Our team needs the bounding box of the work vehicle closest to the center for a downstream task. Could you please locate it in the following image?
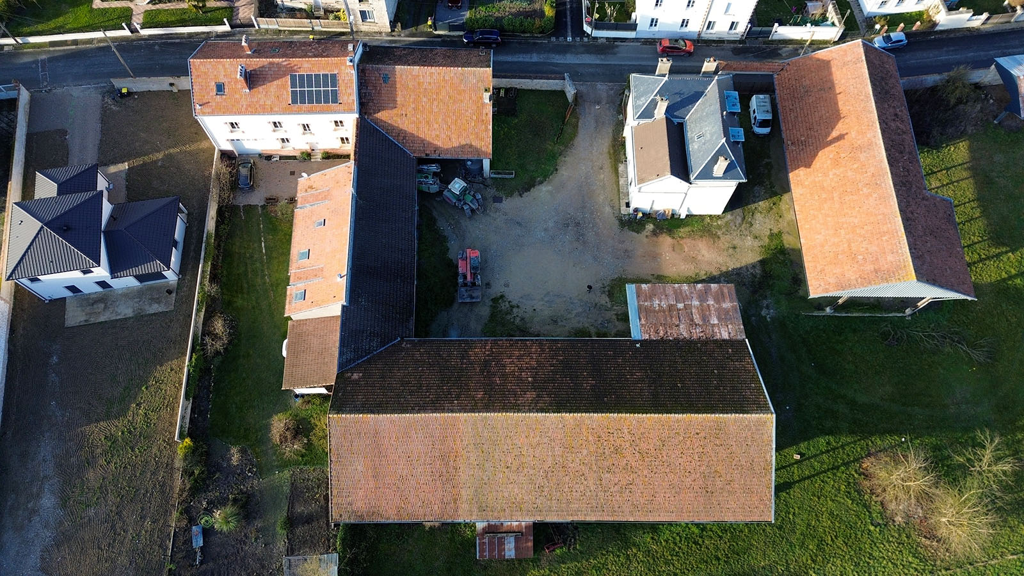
[455,244,482,305]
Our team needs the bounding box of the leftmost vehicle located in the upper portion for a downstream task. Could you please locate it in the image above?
[232,155,254,194]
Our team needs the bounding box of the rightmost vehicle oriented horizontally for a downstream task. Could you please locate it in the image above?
[874,31,914,50]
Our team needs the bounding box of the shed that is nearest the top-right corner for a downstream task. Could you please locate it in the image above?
[935,0,985,29]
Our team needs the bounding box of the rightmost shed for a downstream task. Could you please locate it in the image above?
[986,59,1024,131]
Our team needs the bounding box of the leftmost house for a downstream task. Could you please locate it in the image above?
[6,163,190,295]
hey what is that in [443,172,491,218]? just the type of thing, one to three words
work vehicle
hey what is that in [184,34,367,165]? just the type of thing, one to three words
house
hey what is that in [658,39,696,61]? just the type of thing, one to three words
car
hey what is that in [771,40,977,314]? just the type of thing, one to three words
building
